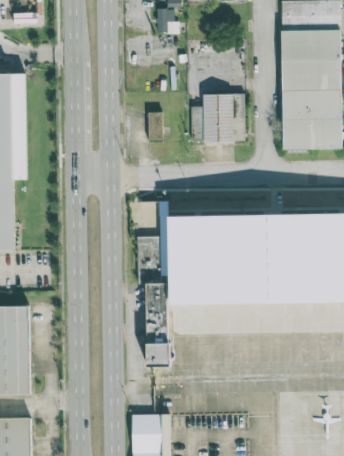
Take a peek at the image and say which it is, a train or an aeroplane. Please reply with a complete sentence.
This aerial view contains an aeroplane.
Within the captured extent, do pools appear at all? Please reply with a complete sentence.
No, there is no pool in the image.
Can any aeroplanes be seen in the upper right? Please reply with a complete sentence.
No, in the upper right there is no aeroplane.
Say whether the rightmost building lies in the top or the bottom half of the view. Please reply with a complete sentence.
It is in the top half that the rightmost building appears.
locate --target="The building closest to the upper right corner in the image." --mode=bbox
[280,0,344,150]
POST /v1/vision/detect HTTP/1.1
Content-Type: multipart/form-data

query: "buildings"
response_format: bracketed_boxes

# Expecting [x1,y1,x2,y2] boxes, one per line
[0,306,32,396]
[148,112,164,141]
[0,74,27,253]
[280,0,344,150]
[0,418,32,456]
[144,283,175,367]
[14,0,42,24]
[190,94,246,143]
[129,202,156,228]
[131,414,171,456]
[138,236,158,282]
[159,201,344,304]
[156,9,180,35]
